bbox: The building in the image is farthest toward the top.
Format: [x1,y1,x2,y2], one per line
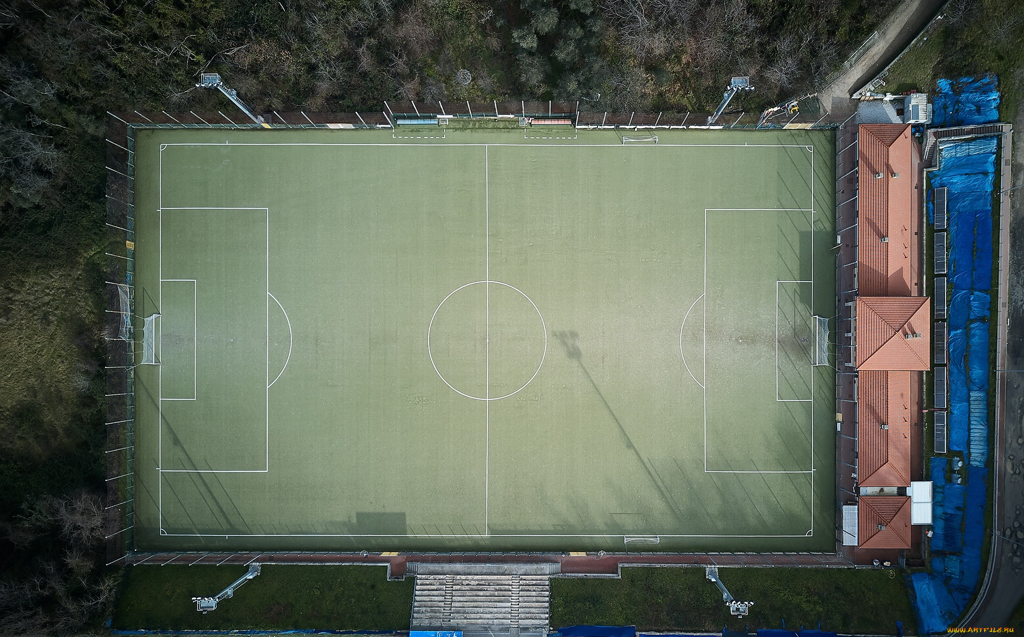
[844,123,931,488]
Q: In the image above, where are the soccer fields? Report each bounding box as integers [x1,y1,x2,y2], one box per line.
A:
[134,117,837,551]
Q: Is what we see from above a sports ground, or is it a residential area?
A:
sports ground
